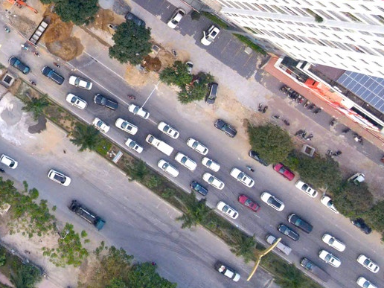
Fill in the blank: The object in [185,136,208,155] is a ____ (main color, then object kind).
white car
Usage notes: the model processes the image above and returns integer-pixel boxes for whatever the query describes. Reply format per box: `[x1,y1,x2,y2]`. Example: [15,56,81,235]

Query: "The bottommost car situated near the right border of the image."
[356,276,378,288]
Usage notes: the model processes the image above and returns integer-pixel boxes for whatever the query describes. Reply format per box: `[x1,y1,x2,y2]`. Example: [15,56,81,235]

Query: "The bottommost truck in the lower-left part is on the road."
[66,198,109,235]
